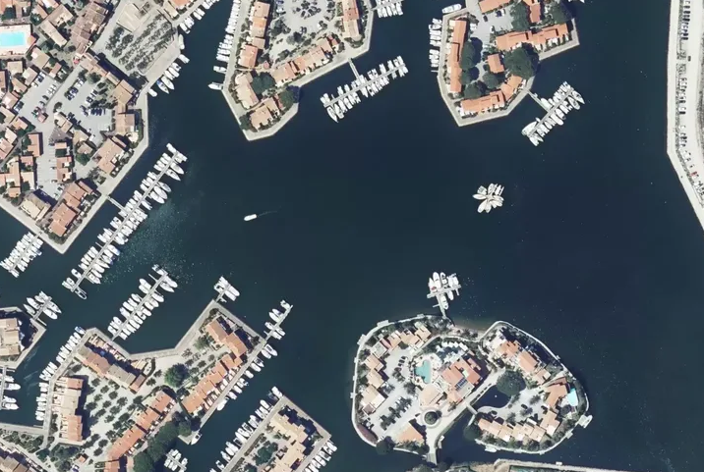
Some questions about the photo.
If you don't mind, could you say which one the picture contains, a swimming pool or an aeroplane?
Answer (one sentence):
The image shows a swimming pool.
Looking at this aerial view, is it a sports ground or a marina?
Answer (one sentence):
It's a marina.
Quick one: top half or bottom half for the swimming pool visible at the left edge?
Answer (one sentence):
The swimming pool visible at the left edge sits in the top half of the picture.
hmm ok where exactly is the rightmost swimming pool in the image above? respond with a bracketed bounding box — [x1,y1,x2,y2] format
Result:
[562,388,578,409]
